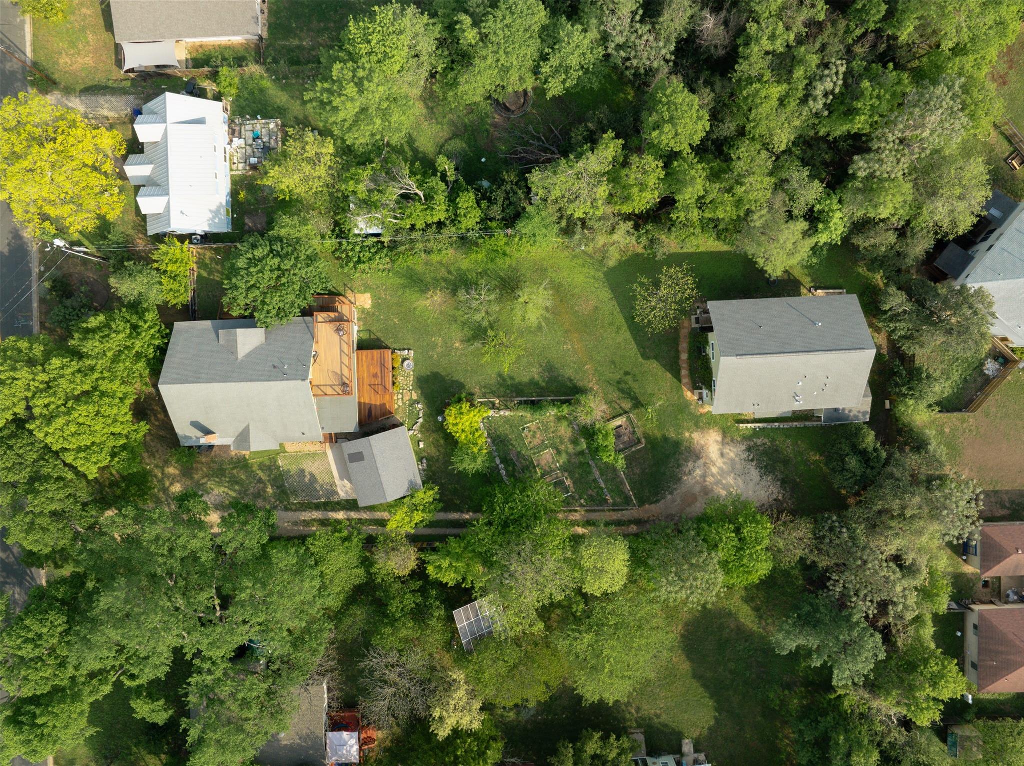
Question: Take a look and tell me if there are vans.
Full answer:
No, I can't see a single van in this photo.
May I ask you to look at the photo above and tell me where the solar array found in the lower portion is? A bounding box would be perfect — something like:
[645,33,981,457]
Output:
[453,592,511,653]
